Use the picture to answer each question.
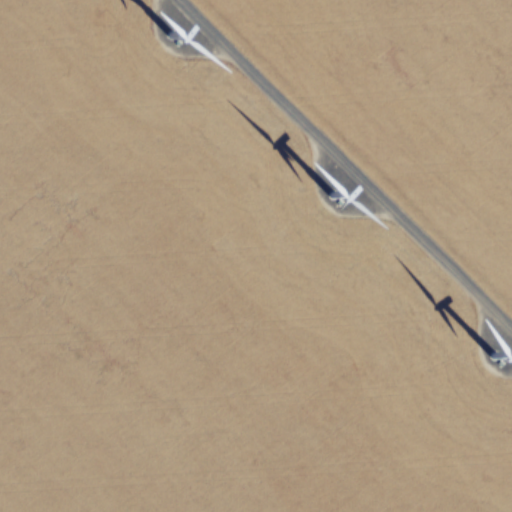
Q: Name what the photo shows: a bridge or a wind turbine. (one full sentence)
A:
There is a wind turbine in the scene.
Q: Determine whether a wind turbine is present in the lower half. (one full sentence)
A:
Yes, a wind turbine is visible in the lower half.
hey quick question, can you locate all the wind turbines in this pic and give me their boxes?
[316,161,390,230]
[488,320,512,364]
[160,8,232,72]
